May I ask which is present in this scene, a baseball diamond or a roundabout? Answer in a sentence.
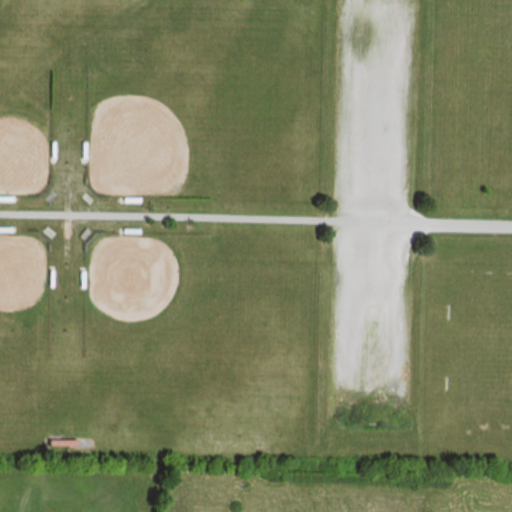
The image shows a baseball diamond.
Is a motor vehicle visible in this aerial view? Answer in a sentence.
No, there is no motor vehicle in the image.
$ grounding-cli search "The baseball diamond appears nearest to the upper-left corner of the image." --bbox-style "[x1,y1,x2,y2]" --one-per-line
[0,76,52,198]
